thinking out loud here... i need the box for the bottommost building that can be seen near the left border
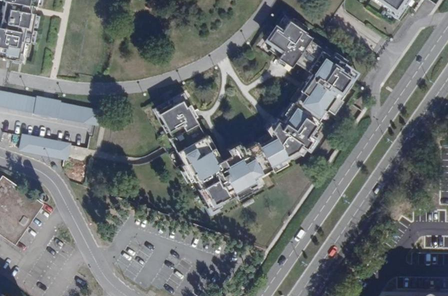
[0,176,43,244]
